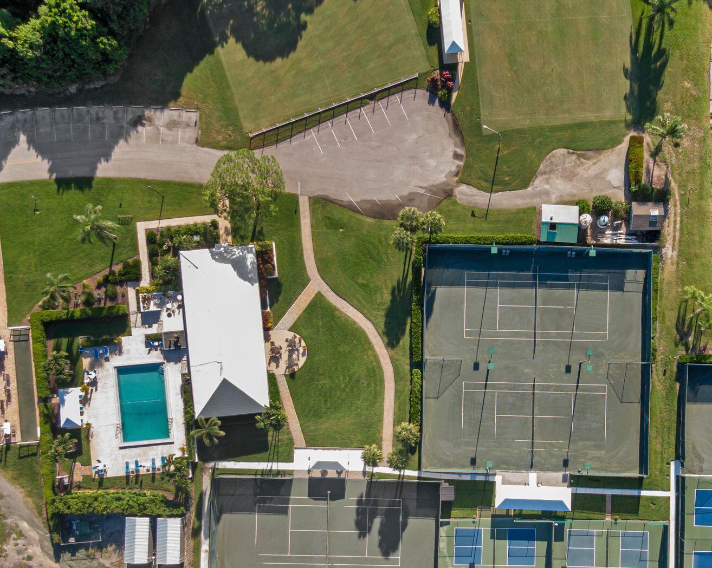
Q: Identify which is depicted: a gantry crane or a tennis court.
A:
tennis court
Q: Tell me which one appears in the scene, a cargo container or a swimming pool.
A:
swimming pool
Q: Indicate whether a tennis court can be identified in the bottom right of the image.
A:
Yes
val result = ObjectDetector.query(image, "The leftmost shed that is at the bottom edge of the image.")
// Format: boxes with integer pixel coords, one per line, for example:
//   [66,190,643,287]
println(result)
[124,517,154,565]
